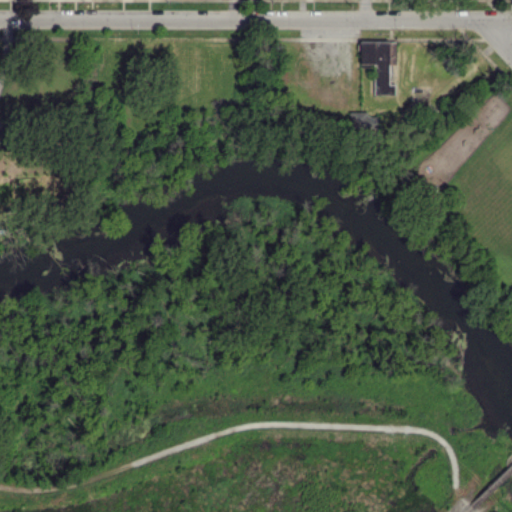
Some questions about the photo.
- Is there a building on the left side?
No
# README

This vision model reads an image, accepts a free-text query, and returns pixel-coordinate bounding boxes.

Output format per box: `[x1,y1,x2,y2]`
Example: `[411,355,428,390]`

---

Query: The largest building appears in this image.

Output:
[360,42,398,95]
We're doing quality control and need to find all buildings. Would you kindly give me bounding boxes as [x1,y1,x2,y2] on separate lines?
[360,42,398,95]
[350,110,379,128]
